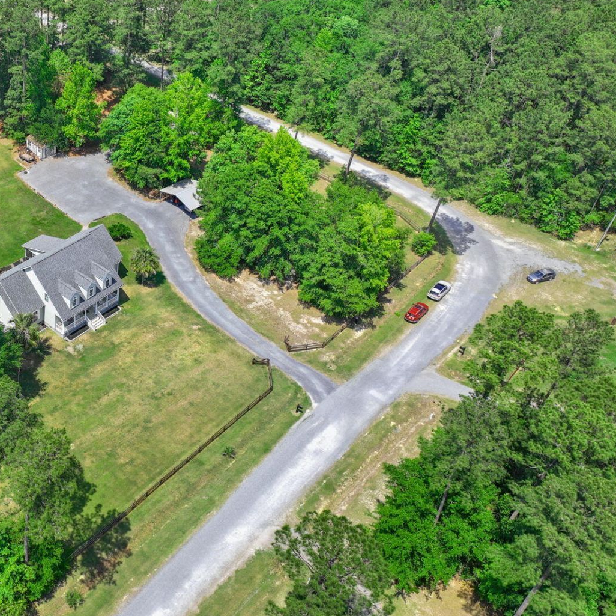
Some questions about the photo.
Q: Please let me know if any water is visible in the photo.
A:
No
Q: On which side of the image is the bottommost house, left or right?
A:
left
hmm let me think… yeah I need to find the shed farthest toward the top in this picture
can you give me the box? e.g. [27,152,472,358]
[27,132,59,159]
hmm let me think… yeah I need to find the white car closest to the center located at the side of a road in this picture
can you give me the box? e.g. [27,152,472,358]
[427,280,453,302]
